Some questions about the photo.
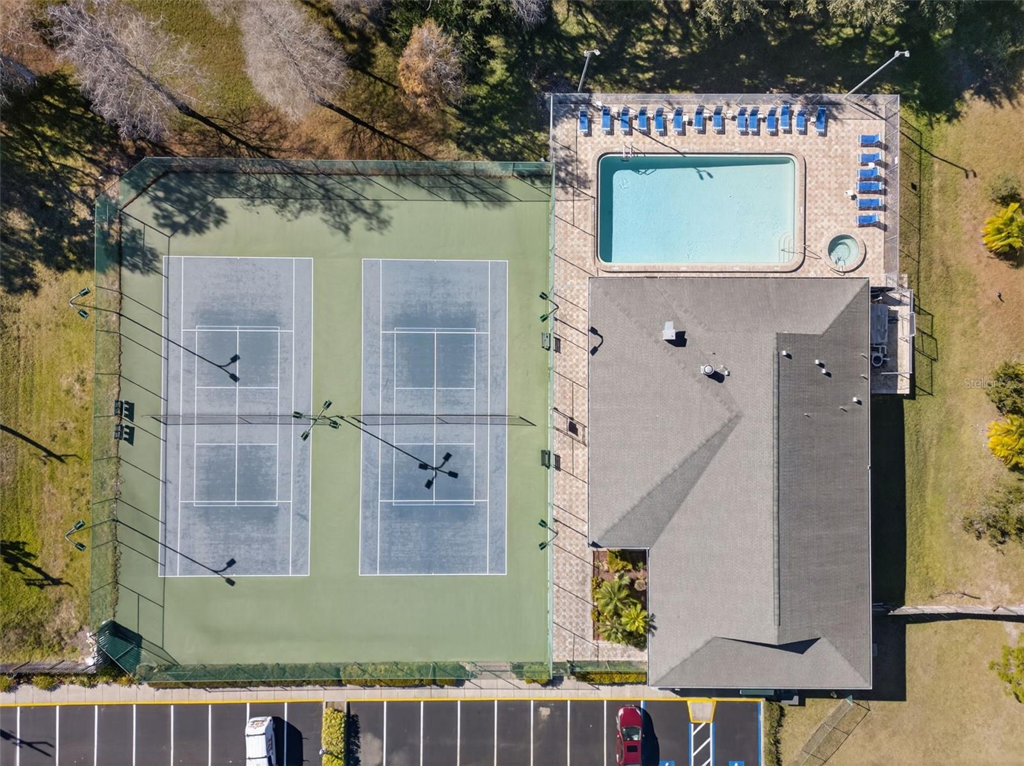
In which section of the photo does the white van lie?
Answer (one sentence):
The white van is in the bottom left part of the image.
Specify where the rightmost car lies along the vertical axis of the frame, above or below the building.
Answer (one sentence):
The position of the rightmost car is below the building.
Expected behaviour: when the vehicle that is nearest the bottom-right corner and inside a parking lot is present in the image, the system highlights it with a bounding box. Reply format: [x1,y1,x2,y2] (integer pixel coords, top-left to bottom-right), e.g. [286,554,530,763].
[617,705,646,766]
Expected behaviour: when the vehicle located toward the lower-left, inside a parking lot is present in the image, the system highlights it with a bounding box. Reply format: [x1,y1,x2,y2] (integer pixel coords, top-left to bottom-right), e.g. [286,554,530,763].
[243,716,279,766]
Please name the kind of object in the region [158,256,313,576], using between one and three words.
tennis court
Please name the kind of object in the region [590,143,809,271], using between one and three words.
swimming pool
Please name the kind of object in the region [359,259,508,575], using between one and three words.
tennis court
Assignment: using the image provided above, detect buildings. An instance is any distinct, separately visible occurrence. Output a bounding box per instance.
[587,276,873,696]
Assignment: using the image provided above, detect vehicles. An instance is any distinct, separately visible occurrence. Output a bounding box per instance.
[617,705,646,766]
[243,716,279,766]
